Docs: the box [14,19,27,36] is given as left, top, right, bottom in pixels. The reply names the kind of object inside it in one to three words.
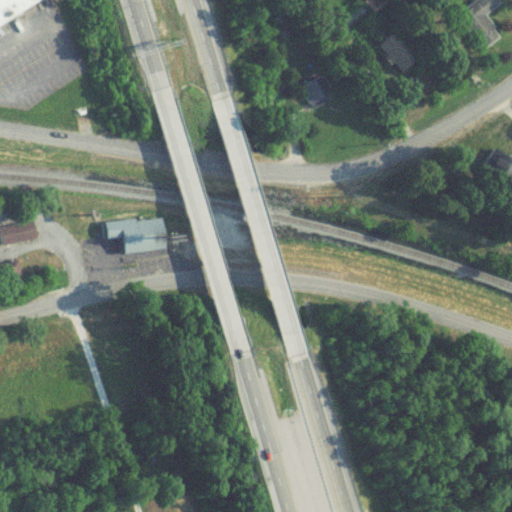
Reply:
vehicle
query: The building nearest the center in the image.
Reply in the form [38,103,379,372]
[104,218,168,254]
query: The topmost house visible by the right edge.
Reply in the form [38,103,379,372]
[467,0,504,47]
